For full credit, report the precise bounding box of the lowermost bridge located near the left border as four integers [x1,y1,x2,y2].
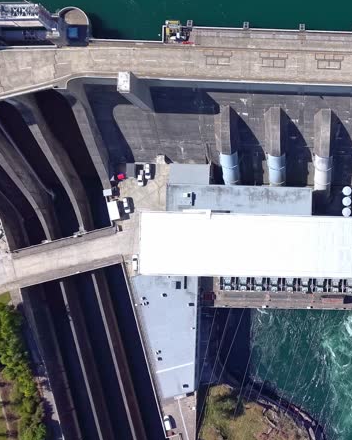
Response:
[11,225,125,289]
